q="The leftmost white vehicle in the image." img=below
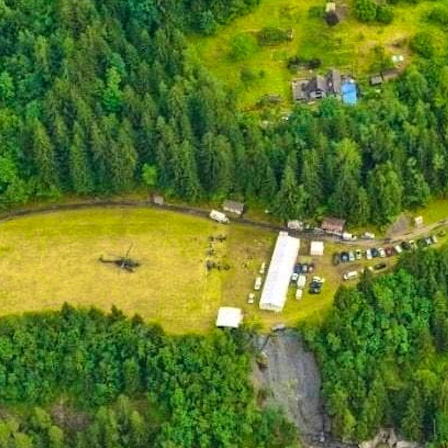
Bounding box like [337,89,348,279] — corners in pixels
[208,208,229,224]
